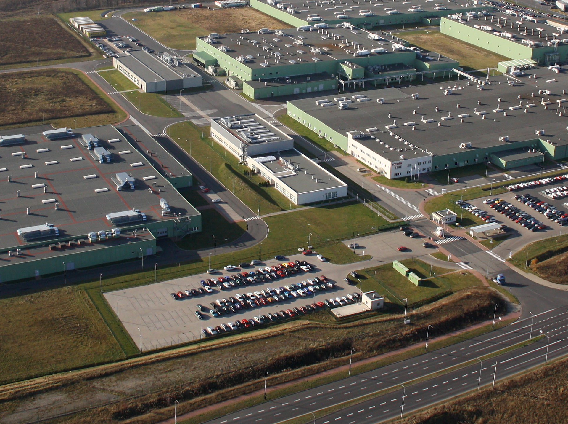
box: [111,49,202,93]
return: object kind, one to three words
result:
building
